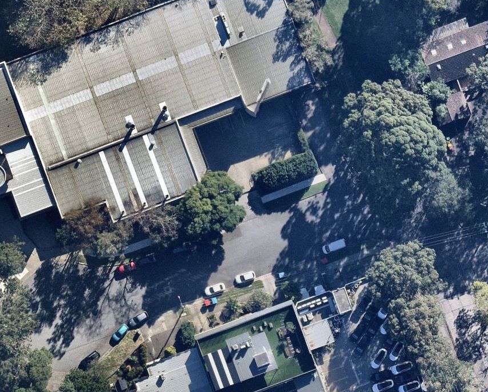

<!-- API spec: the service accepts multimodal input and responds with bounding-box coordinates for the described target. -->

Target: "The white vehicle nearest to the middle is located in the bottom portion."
[234,272,255,285]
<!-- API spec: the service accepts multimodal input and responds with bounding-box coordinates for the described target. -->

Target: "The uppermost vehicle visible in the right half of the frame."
[322,239,347,255]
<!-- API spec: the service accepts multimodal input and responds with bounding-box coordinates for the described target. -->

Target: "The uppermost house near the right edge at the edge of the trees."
[420,17,488,81]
